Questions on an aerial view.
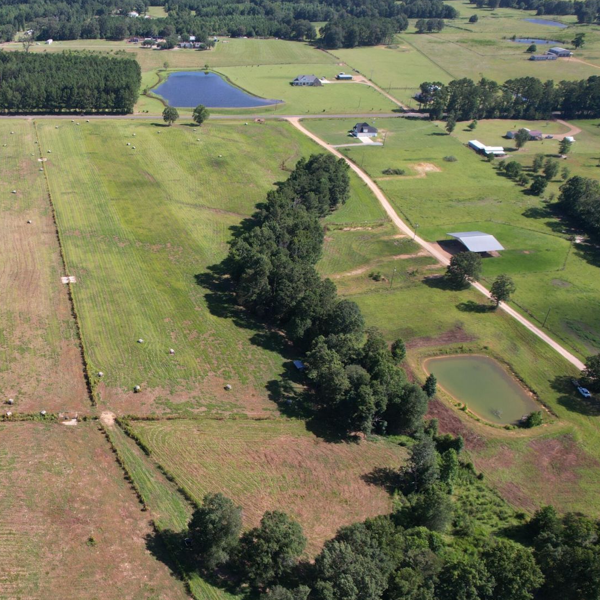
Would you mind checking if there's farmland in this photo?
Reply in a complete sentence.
Yes, farmland can be seen from above here.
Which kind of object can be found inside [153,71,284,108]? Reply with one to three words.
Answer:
pond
